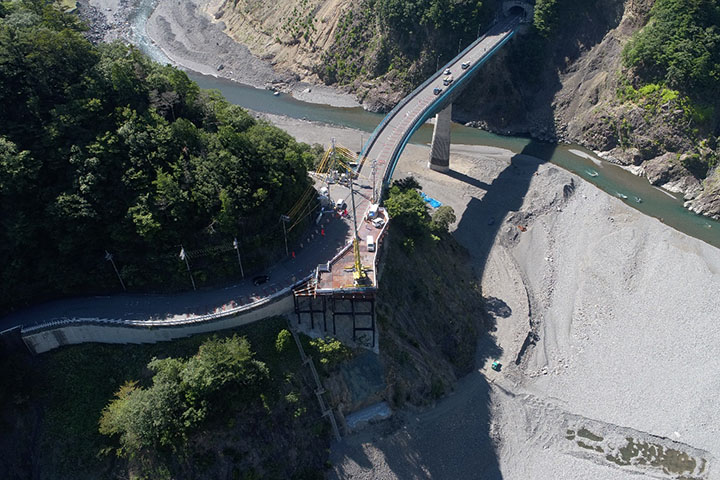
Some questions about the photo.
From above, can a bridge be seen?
Yes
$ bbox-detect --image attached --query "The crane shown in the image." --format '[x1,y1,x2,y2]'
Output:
[341,232,375,288]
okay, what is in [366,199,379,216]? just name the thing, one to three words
vehicle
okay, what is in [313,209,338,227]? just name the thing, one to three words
vehicle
